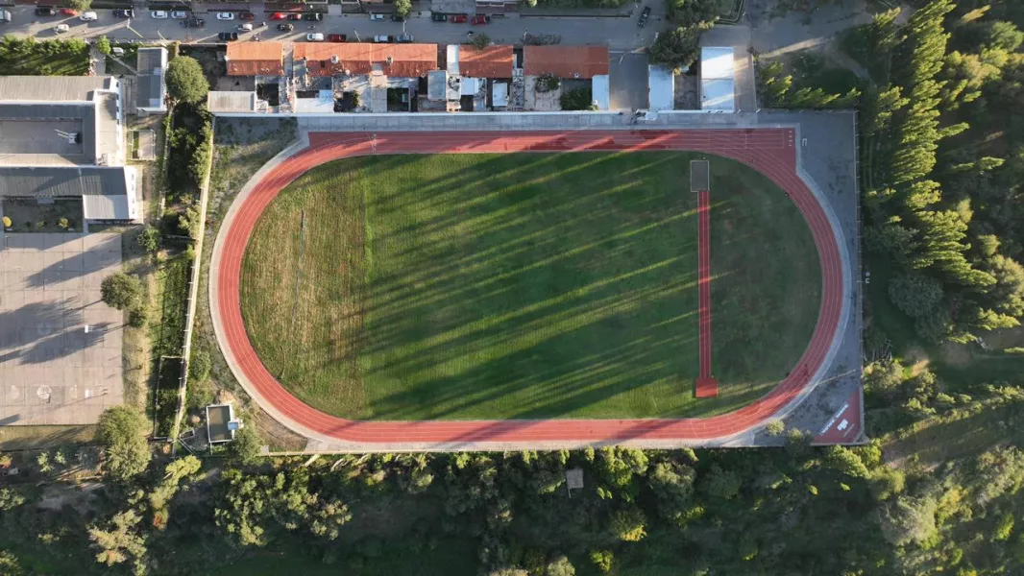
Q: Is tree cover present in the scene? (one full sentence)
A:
Yes, tree cover can be seen from above here.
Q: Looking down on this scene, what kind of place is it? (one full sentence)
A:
This image shows a sports ground.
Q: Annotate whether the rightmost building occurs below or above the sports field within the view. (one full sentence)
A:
The rightmost building is above the sports field.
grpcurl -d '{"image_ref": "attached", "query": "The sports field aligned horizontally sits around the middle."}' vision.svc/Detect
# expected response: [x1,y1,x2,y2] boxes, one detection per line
[241,152,822,420]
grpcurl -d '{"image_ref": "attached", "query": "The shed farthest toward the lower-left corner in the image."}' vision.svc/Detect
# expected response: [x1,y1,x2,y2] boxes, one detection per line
[208,404,245,442]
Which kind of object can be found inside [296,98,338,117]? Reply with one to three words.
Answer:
shed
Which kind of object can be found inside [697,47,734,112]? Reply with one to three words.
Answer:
building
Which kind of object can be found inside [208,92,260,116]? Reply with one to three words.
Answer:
shed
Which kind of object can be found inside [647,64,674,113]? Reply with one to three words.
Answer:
building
